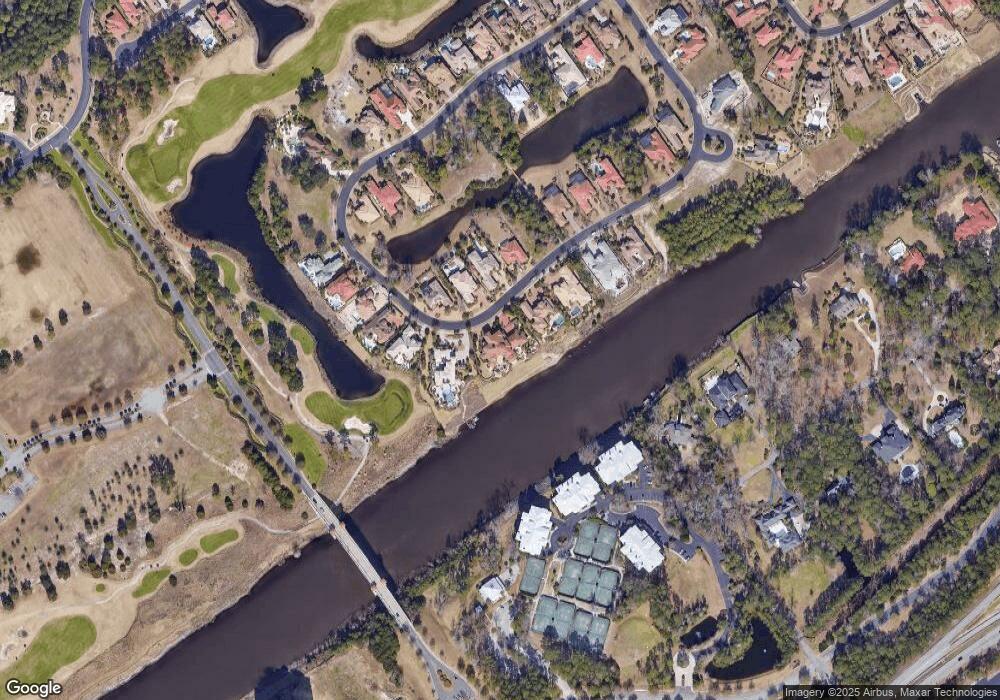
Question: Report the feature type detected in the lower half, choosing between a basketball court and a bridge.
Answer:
bridge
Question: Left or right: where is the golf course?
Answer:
left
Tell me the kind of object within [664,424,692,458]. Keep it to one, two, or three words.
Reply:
house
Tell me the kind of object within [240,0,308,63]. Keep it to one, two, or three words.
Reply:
pond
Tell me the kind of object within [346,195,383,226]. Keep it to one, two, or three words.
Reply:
house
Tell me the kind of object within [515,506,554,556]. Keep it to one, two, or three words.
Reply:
building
